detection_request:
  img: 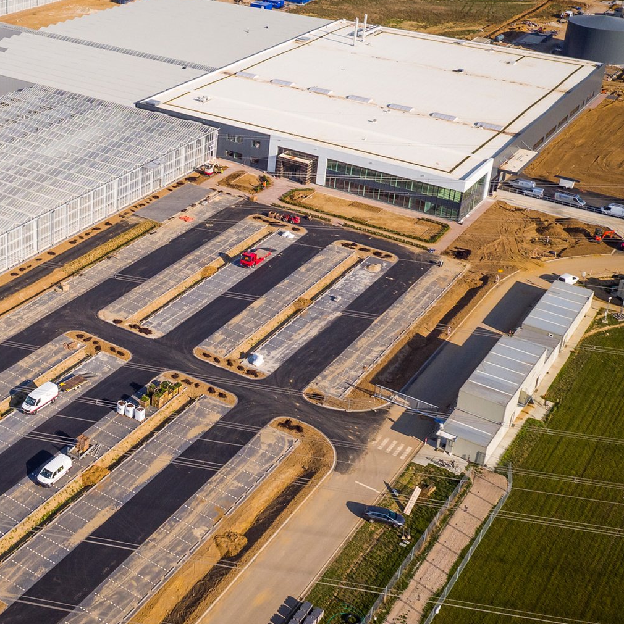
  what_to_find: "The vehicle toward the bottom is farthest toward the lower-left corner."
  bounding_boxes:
[34,450,73,487]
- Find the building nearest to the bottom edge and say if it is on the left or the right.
right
